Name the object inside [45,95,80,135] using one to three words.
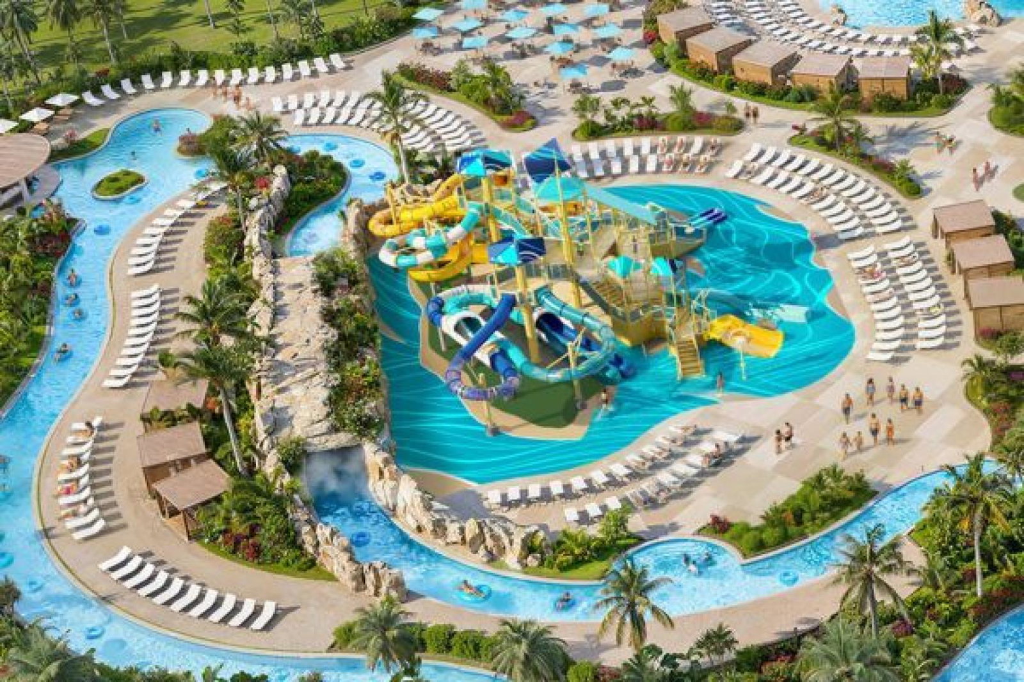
umbrella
